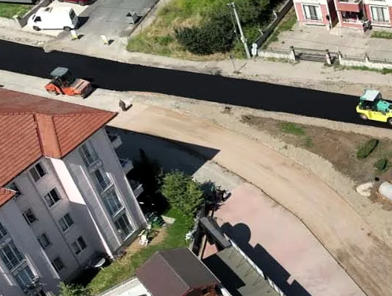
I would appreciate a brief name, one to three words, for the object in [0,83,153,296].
building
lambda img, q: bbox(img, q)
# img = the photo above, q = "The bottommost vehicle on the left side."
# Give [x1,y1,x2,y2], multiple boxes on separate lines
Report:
[36,61,94,99]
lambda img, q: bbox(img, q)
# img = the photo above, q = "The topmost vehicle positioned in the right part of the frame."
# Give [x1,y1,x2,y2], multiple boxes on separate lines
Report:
[353,89,392,127]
